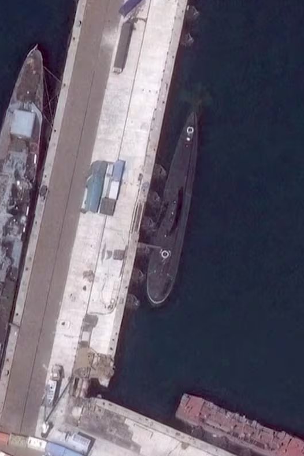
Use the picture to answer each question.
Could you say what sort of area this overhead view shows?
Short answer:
port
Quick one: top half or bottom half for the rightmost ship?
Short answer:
bottom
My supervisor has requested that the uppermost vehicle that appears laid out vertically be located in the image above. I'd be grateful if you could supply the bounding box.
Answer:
[114,22,132,79]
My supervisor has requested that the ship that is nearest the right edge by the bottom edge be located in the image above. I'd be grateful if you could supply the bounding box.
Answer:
[177,393,304,456]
